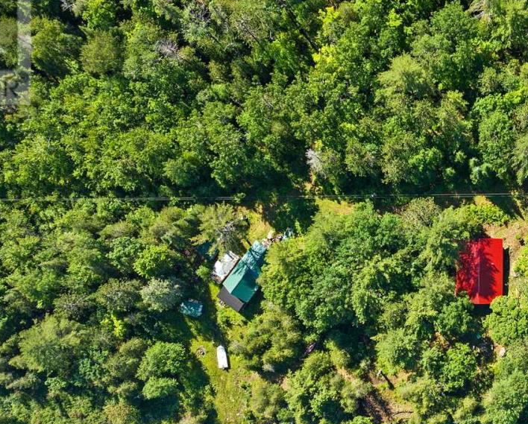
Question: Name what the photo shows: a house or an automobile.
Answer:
house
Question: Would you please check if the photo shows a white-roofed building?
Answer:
No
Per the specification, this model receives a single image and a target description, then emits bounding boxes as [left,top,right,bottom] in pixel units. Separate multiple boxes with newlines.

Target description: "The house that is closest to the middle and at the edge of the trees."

[216,234,277,312]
